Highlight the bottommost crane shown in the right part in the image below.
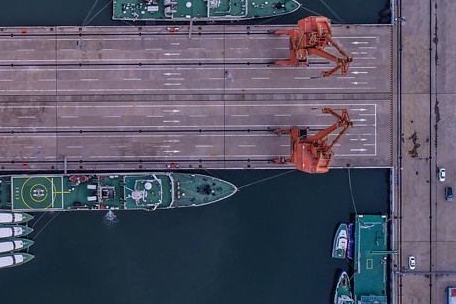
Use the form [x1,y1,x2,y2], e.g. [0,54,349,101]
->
[272,105,360,176]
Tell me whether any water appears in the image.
Yes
